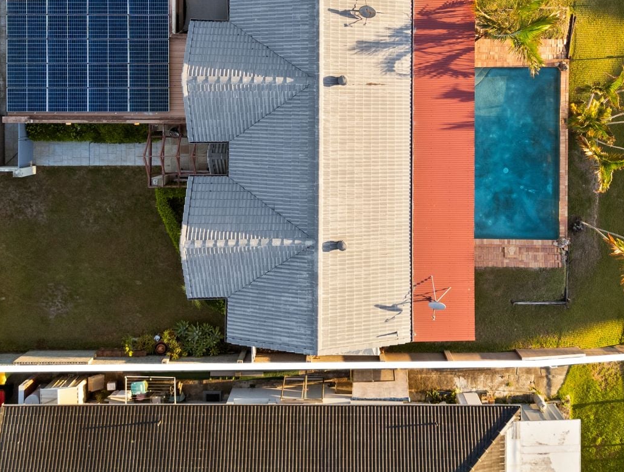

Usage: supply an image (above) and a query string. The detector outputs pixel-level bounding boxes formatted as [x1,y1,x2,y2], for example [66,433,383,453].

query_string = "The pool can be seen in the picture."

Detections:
[475,40,569,267]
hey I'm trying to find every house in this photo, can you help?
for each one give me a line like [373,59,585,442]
[0,394,581,472]
[175,0,475,357]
